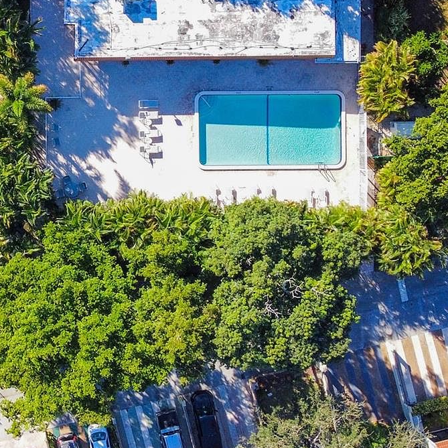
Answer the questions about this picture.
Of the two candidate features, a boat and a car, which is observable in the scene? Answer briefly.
car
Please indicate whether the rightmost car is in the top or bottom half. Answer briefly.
bottom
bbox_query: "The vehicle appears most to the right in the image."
[190,389,221,448]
